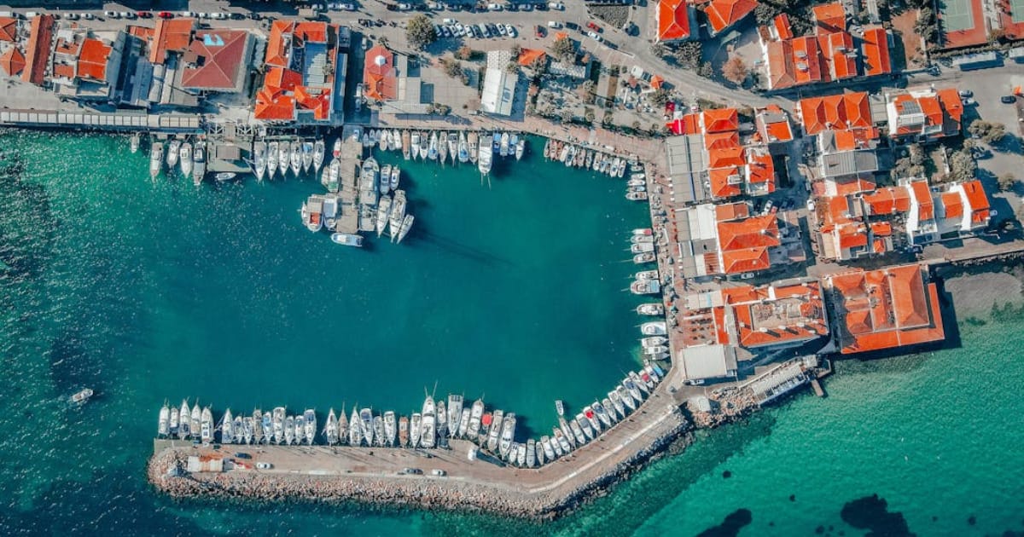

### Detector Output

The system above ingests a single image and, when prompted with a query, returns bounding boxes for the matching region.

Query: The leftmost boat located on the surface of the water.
[70,390,92,404]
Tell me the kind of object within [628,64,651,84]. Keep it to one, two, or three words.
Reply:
vehicle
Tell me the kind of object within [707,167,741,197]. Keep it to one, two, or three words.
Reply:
house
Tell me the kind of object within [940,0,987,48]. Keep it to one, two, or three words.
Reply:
tennis court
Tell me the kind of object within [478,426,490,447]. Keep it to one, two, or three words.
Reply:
boat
